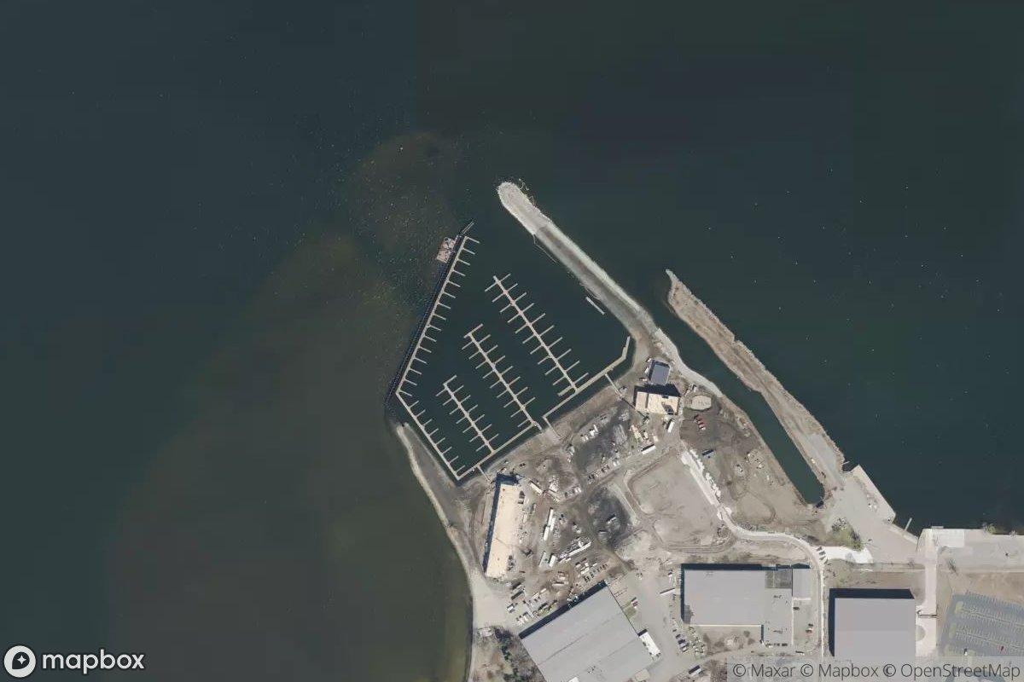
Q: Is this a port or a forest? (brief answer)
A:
port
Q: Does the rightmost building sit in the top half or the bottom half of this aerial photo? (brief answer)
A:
bottom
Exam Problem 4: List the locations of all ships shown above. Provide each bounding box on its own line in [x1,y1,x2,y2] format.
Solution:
[437,237,456,263]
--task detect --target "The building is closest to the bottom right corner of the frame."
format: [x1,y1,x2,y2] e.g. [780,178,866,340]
[835,599,916,658]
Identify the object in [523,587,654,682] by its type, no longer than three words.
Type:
building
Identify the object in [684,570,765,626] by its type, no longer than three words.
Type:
building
